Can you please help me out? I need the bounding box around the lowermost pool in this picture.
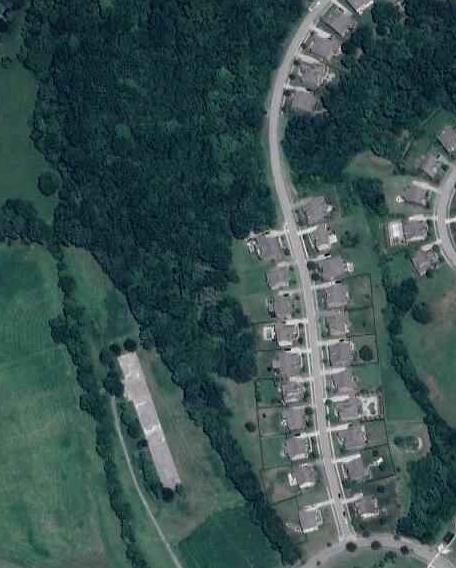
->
[363,398,379,420]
